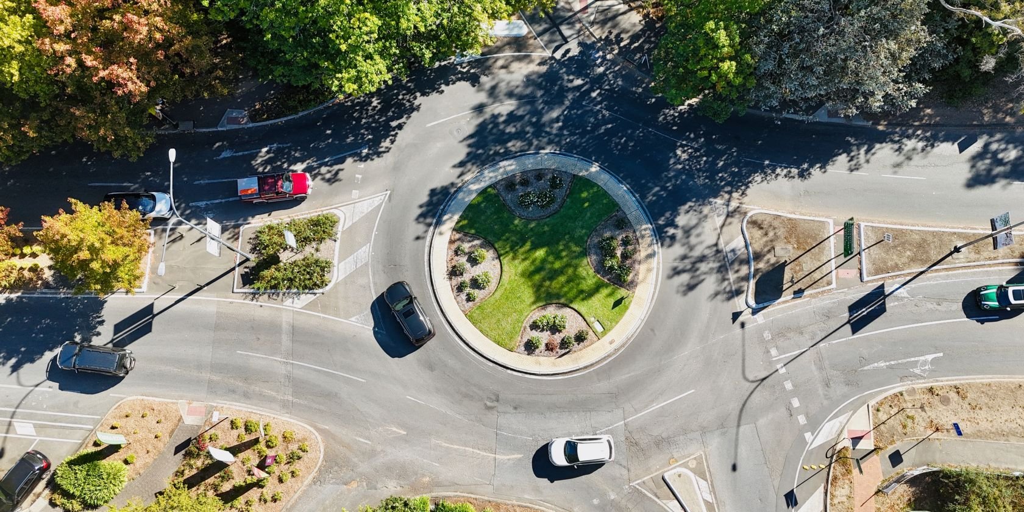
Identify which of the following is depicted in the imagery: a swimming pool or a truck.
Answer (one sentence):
Of the two, only a truck appears.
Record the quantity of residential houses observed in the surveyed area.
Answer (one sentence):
No residential houses are visible.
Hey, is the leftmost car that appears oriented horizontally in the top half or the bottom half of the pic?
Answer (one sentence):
The leftmost car that appears oriented horizontally sits in the bottom half of the picture.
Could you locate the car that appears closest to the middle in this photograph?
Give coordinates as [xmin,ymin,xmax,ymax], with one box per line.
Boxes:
[385,282,436,349]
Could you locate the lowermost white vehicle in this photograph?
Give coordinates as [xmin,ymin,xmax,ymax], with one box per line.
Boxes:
[548,433,615,471]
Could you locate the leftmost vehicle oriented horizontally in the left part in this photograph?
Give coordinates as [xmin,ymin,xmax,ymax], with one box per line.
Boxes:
[56,341,138,378]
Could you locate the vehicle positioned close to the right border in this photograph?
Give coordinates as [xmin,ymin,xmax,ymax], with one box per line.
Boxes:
[974,280,1024,314]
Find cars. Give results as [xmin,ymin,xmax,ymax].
[548,433,615,471]
[102,185,175,218]
[56,341,138,378]
[0,449,50,512]
[974,280,1024,314]
[385,282,436,349]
